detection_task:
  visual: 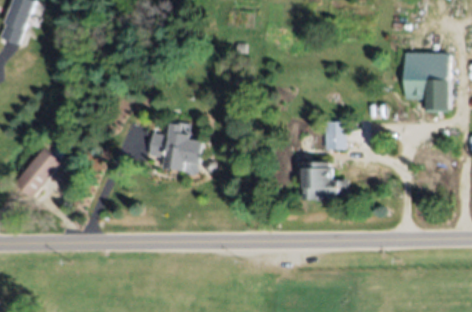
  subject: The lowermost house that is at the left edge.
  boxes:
[18,150,61,198]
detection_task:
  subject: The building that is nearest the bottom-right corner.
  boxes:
[302,164,346,200]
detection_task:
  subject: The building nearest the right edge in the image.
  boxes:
[404,54,452,113]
